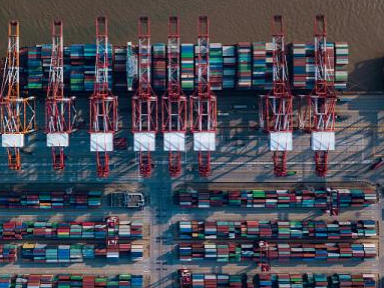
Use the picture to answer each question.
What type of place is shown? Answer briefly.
port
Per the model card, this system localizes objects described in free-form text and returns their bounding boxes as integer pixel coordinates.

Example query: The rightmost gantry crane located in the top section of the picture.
[291,15,337,177]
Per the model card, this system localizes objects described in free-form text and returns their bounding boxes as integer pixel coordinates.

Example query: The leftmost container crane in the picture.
[0,20,45,173]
